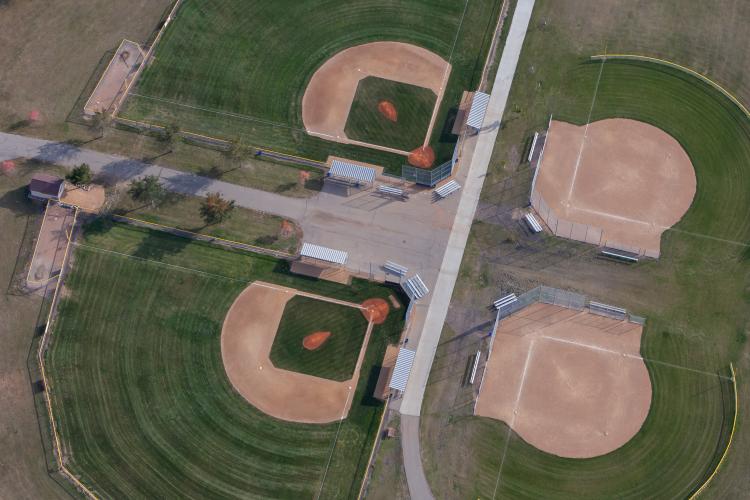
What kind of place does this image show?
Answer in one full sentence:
This image shows a sports ground.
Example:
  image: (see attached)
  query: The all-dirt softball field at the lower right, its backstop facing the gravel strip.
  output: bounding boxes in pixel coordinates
[467,302,737,500]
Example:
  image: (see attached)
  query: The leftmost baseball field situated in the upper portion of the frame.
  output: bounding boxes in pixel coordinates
[116,0,503,184]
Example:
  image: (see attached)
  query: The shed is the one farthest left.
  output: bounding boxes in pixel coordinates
[29,175,63,200]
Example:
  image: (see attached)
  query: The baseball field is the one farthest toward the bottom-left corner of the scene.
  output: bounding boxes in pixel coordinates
[40,213,410,500]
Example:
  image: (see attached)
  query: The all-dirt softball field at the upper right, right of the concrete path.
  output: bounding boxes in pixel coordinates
[532,58,750,259]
